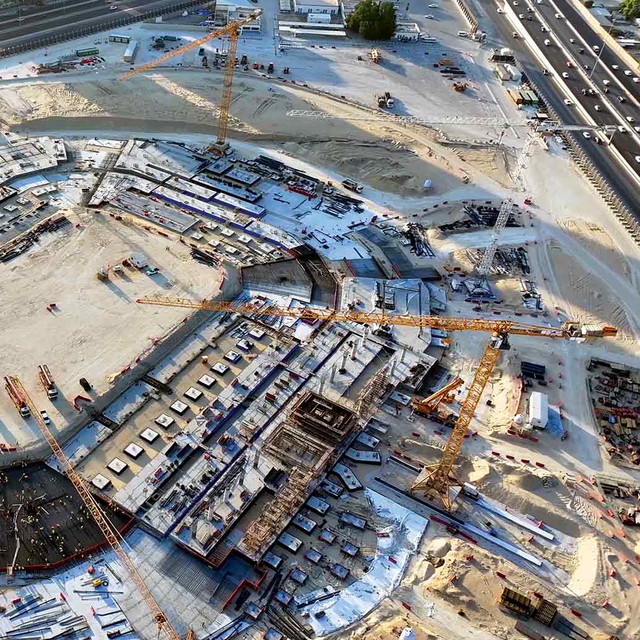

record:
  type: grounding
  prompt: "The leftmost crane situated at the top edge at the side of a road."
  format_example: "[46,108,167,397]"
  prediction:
[119,13,269,162]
